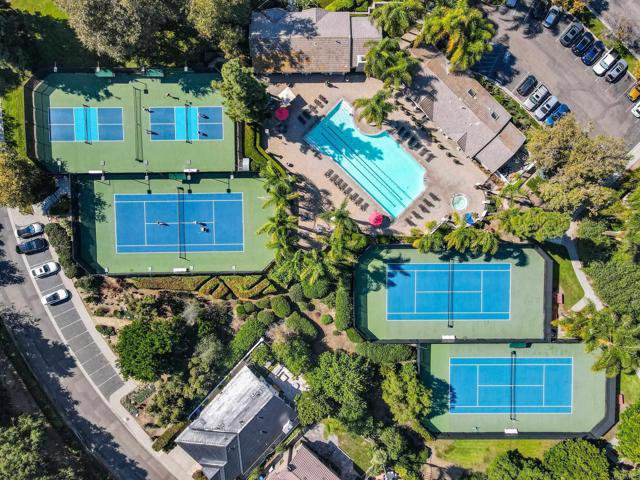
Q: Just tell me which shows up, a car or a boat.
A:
car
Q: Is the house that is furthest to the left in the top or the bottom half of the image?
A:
bottom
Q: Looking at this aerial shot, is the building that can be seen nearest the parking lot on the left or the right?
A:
right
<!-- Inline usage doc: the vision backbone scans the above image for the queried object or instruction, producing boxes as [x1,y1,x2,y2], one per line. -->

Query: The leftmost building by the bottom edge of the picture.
[176,366,298,480]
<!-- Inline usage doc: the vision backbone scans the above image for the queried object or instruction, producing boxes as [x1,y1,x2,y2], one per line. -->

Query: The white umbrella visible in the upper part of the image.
[276,85,298,107]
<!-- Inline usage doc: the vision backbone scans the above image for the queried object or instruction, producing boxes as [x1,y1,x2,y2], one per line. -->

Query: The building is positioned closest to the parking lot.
[397,49,526,173]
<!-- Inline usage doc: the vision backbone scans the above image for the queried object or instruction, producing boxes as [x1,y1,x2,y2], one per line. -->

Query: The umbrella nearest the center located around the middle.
[369,212,383,226]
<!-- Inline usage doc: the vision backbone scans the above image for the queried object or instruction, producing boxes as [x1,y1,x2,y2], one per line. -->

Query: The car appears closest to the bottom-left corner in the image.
[42,289,70,304]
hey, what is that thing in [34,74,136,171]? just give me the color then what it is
green sports court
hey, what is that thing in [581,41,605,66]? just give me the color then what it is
blue car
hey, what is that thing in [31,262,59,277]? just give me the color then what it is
white car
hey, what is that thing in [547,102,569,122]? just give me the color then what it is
blue car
